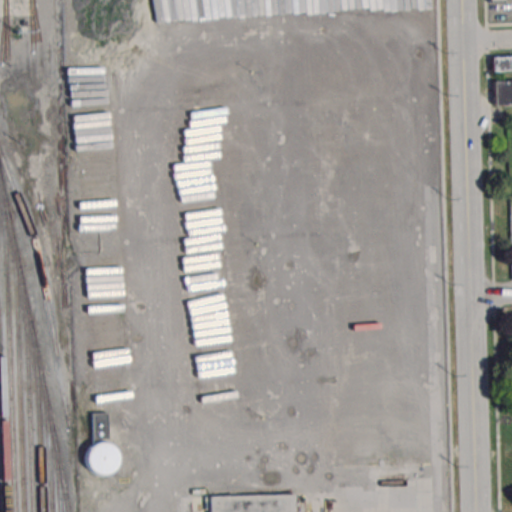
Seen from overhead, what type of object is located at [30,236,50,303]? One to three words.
rail car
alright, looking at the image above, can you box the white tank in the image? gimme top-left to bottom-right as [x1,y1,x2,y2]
[84,442,122,477]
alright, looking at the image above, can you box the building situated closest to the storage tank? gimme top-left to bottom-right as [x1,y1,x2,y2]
[90,413,108,444]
